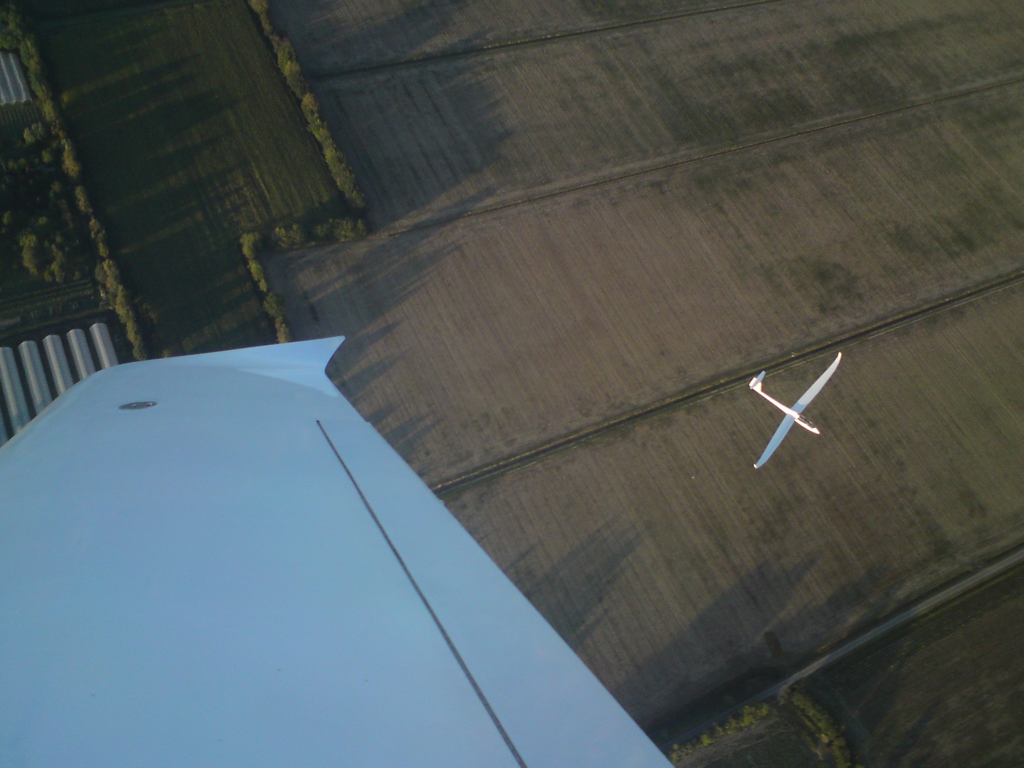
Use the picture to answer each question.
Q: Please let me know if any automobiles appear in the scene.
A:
No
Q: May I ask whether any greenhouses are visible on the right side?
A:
No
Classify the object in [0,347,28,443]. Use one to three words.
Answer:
greenhouse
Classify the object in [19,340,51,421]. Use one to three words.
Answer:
greenhouse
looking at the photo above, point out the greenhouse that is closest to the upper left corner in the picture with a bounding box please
[0,51,31,109]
